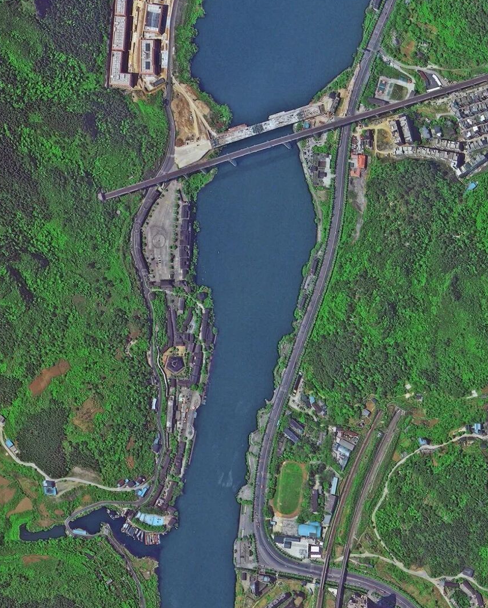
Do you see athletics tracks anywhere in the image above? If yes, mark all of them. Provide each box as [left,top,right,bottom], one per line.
[275,461,309,517]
